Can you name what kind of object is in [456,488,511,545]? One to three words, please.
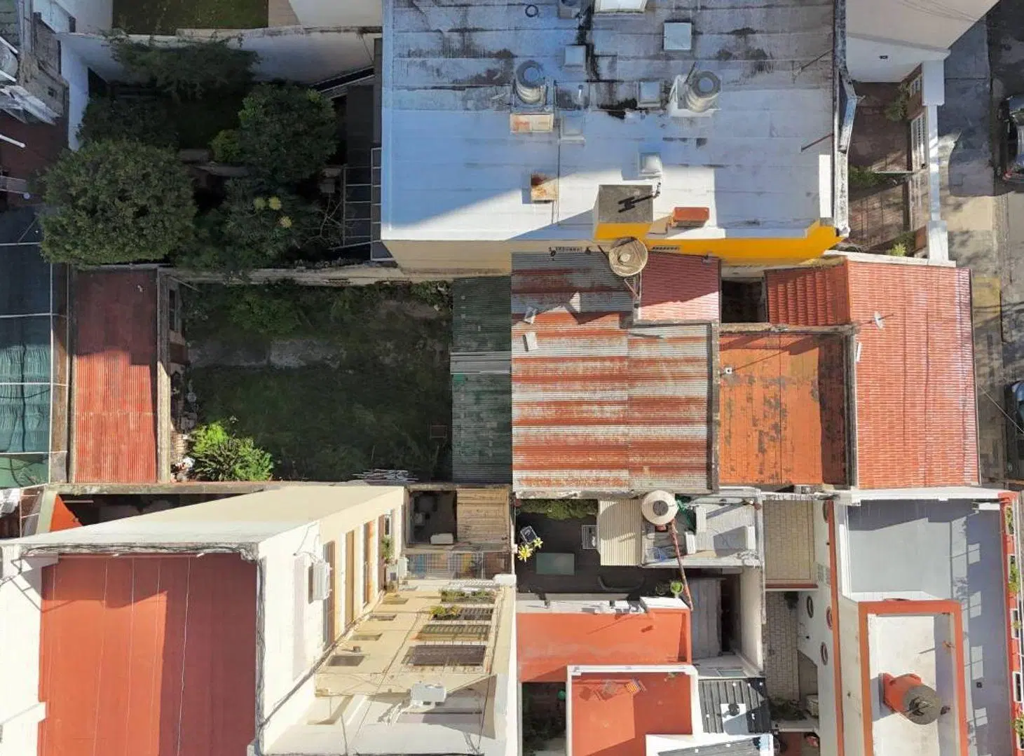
shed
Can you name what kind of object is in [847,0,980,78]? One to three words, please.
building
